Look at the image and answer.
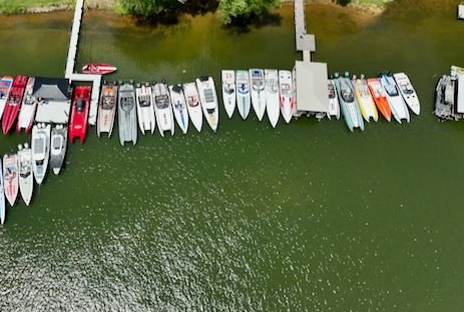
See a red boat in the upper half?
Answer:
Yes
